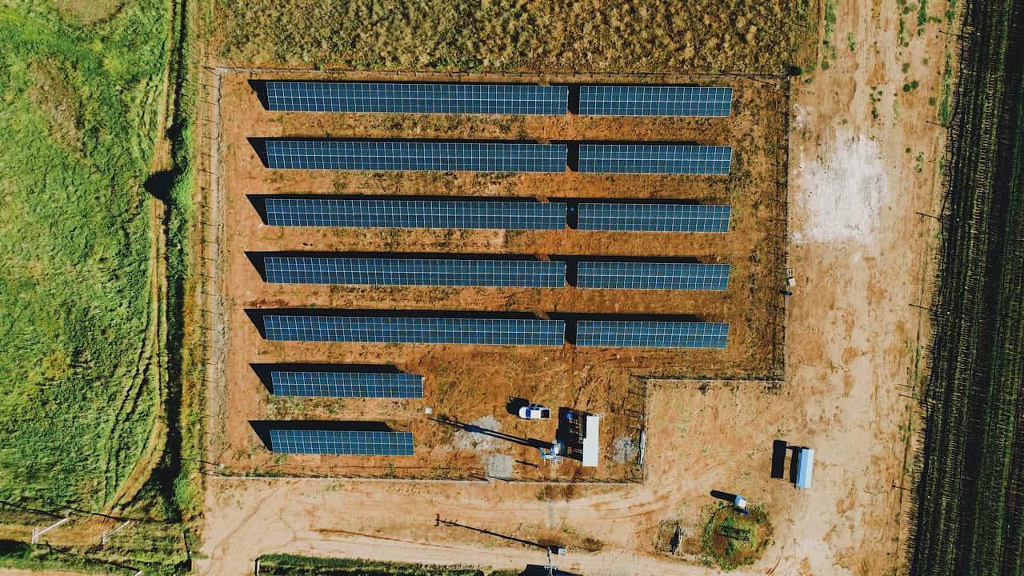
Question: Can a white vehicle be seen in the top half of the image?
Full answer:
No, there is no white vehicle in the top half of the image.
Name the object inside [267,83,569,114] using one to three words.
solar array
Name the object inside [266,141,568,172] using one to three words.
solar array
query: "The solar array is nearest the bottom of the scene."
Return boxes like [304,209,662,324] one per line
[270,430,413,455]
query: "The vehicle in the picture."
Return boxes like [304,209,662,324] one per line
[518,400,551,425]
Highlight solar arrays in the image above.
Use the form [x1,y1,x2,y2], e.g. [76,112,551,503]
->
[264,257,567,287]
[578,145,732,174]
[272,372,424,398]
[266,141,568,172]
[266,199,568,229]
[576,262,730,290]
[264,316,565,345]
[267,83,569,114]
[579,86,732,116]
[577,321,729,348]
[577,203,731,232]
[270,430,413,455]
